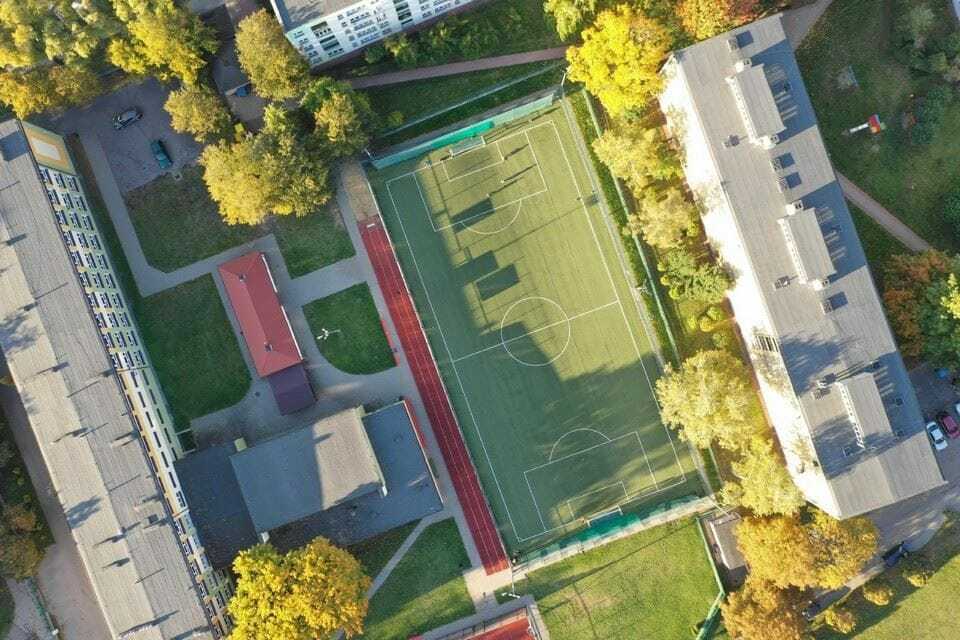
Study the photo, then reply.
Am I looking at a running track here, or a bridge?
running track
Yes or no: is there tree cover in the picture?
Yes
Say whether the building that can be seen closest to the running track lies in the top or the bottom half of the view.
bottom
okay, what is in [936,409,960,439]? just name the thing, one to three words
car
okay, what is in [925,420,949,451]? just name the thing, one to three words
car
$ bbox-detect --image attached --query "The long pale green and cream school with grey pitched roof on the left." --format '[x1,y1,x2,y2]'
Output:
[0,113,250,640]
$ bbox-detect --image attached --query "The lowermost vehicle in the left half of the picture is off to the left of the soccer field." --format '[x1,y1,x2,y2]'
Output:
[150,139,173,169]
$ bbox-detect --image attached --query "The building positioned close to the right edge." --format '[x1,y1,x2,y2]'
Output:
[653,13,946,519]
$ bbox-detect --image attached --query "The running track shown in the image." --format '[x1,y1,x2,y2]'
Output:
[357,216,510,575]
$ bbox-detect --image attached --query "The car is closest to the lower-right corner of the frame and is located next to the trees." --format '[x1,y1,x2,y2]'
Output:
[878,538,911,565]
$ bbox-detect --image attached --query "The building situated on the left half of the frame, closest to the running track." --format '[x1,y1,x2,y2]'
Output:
[172,396,444,571]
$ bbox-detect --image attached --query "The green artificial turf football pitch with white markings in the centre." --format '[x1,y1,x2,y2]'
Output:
[366,98,715,569]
